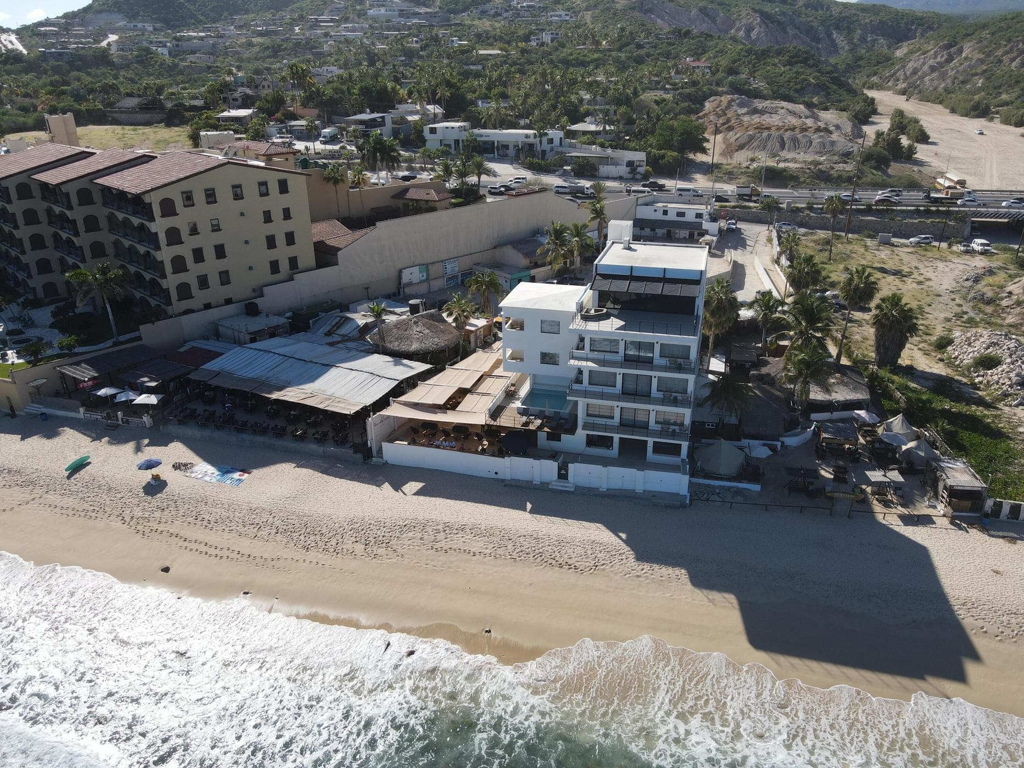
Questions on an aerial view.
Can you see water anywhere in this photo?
Yes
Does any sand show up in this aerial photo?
Yes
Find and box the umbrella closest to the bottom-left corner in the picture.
[132,458,162,472]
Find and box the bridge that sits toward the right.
[929,191,1024,242]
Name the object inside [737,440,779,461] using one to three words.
umbrella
